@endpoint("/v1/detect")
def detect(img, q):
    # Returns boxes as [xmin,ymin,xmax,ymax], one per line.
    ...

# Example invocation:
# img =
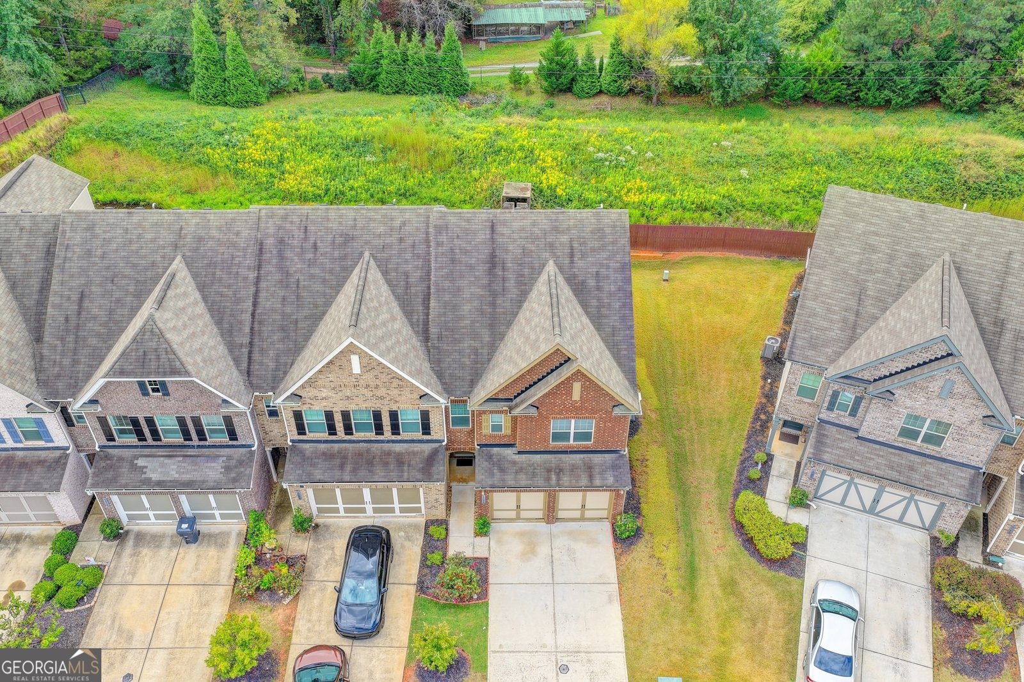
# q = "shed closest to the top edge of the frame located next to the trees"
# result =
[471,4,587,38]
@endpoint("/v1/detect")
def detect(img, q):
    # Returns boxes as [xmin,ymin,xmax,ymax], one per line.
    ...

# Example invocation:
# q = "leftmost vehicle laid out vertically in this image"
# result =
[332,523,392,637]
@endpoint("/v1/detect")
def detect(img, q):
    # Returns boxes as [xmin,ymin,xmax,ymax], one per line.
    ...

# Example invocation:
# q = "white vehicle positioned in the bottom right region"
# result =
[804,581,867,682]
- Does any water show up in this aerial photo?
No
